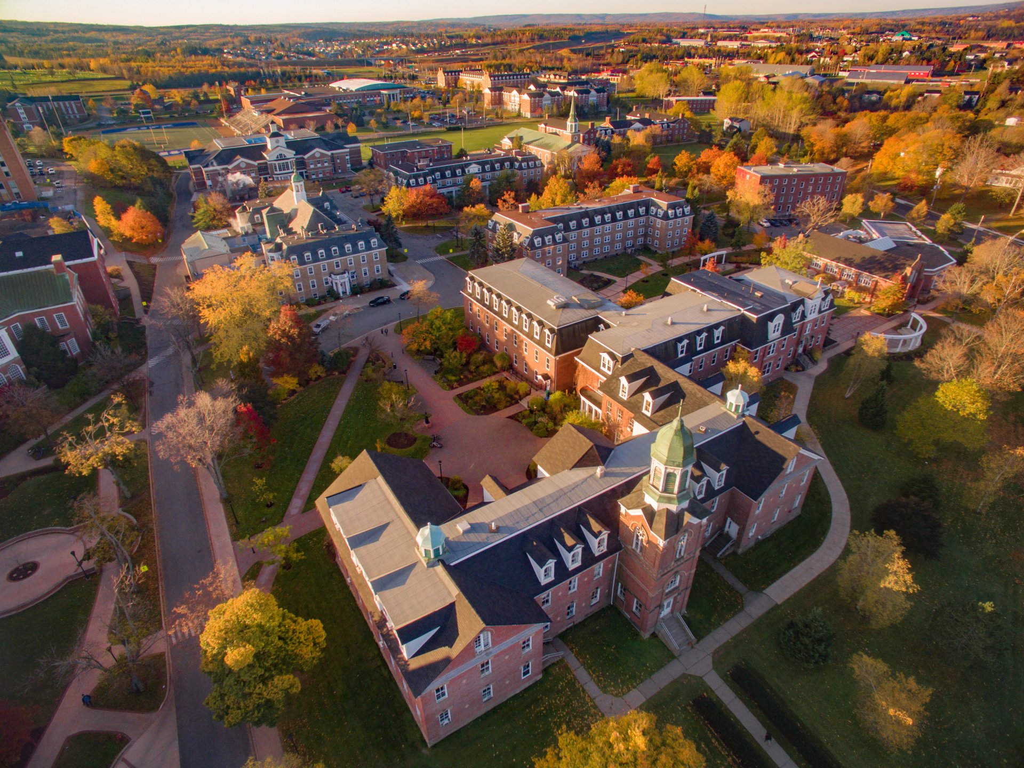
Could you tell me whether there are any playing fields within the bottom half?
No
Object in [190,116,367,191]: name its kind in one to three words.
building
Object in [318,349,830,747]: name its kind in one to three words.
building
